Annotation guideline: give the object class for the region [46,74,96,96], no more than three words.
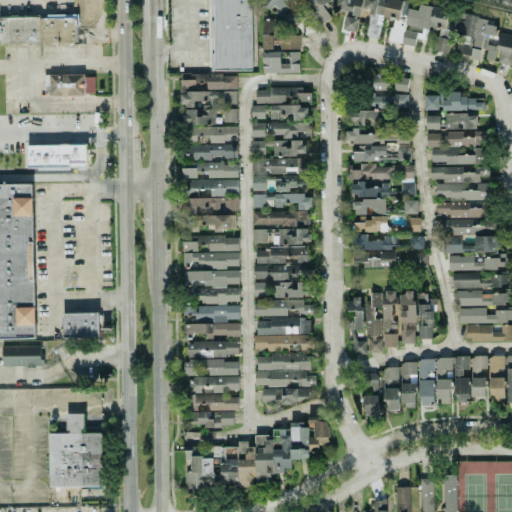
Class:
building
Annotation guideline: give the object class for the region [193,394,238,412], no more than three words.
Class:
house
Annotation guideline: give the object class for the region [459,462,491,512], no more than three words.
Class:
tennis court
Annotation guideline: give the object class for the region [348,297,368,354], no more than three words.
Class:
house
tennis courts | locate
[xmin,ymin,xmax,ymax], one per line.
[459,462,491,512]
[491,462,512,512]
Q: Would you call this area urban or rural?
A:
urban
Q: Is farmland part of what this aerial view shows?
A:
No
